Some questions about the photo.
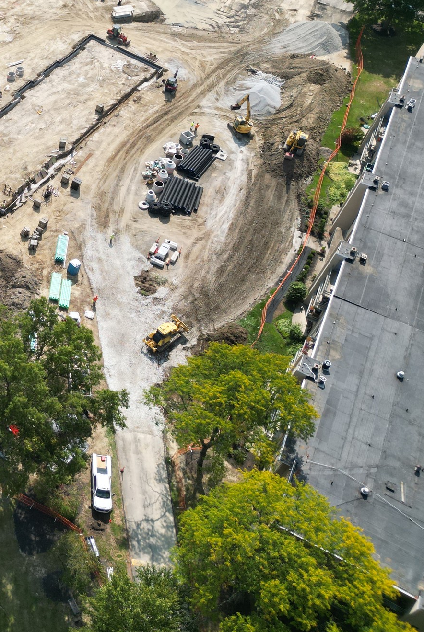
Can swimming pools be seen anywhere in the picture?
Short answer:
No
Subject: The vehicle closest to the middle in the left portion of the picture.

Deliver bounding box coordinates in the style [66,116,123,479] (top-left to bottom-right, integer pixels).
[143,314,189,350]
